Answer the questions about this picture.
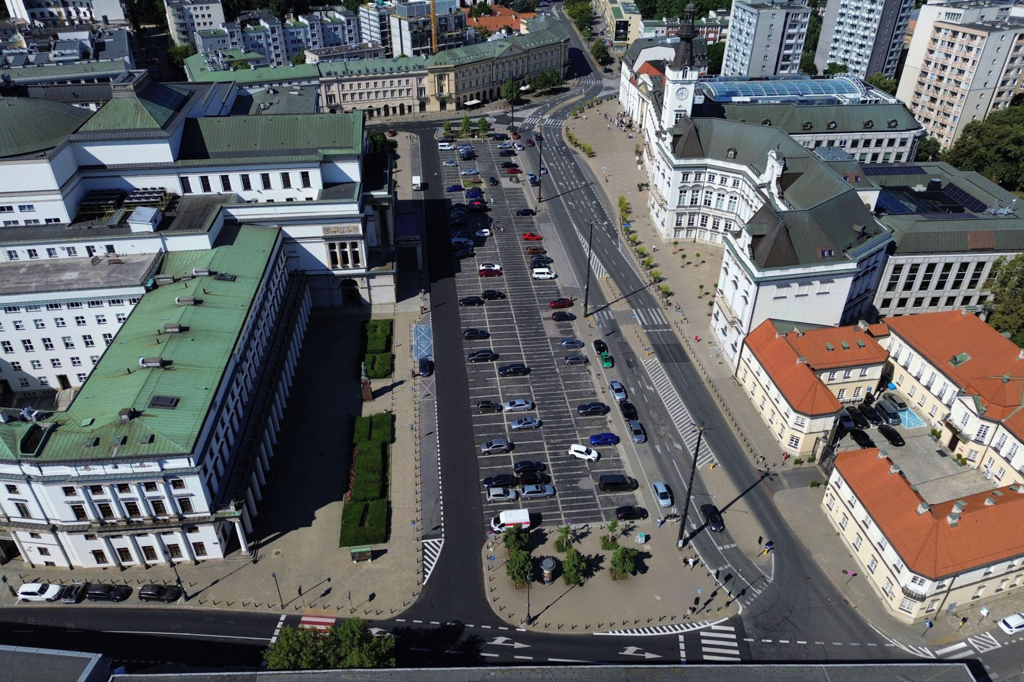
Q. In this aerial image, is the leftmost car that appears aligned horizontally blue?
No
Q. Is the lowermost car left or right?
right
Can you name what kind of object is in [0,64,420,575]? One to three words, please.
building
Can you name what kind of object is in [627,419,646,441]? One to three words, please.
car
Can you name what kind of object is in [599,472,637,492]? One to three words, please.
vehicle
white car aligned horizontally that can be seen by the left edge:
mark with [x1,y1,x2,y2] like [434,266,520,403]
[13,581,60,604]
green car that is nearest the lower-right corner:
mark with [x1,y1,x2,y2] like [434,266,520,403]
[601,350,614,365]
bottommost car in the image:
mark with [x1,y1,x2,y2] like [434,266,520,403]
[997,610,1024,636]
